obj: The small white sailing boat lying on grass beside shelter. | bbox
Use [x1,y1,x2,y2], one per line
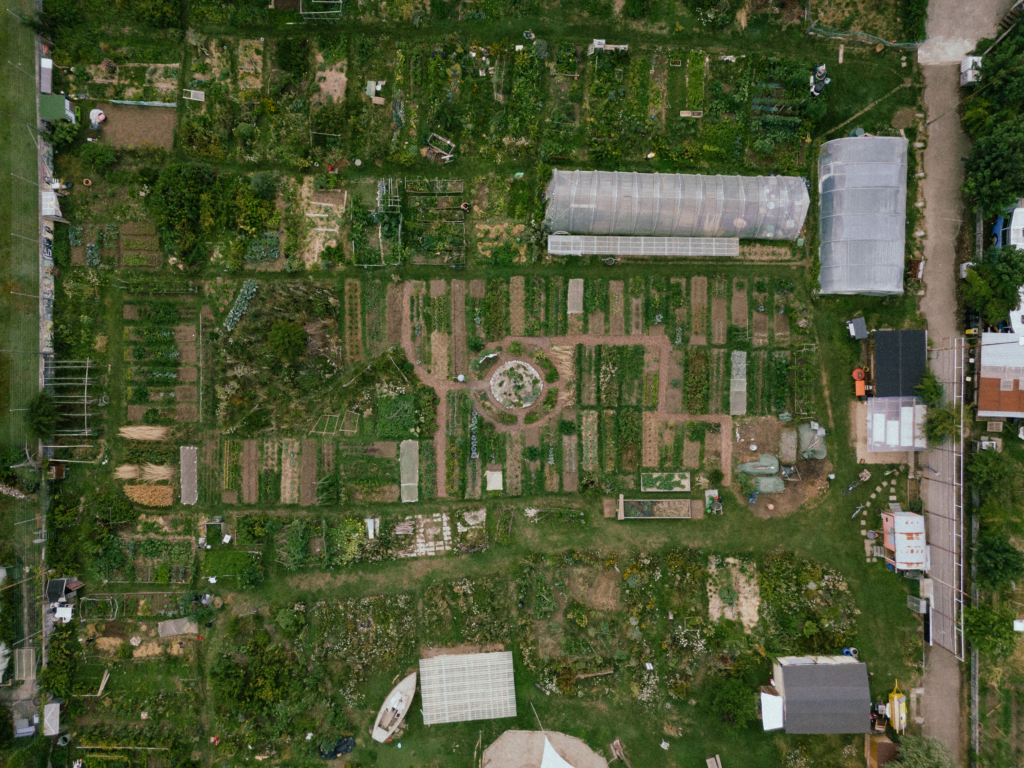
[370,675,415,747]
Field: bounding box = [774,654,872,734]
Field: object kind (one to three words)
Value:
house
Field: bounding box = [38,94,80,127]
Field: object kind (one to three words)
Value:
shed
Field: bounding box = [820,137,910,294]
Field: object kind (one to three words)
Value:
greenhouse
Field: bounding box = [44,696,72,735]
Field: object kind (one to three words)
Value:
shed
